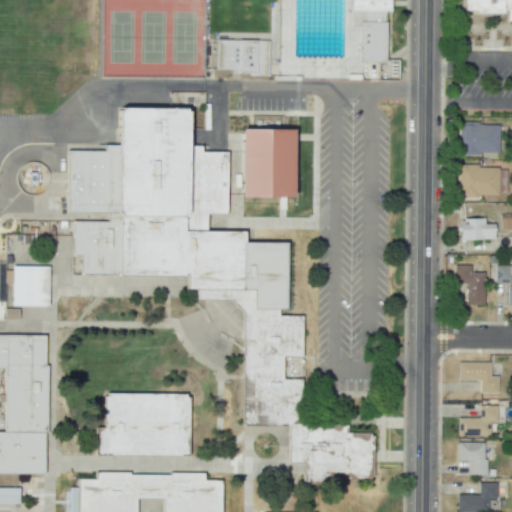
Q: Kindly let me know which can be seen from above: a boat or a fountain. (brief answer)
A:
fountain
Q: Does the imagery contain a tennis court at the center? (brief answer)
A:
No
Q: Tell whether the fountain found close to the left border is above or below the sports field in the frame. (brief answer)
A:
below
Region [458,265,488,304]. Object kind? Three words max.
house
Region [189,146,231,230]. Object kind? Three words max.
building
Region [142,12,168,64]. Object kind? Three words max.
tennis court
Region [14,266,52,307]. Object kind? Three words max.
building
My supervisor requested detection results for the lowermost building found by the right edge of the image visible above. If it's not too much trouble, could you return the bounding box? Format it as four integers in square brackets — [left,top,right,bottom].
[460,482,500,512]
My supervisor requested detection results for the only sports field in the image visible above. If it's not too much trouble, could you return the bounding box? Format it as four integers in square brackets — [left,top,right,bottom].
[0,0,88,116]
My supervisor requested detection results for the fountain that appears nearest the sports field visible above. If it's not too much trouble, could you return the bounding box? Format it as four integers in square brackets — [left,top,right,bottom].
[18,162,51,194]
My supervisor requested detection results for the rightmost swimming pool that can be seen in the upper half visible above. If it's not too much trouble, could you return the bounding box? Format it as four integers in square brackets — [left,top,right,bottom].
[296,0,346,60]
